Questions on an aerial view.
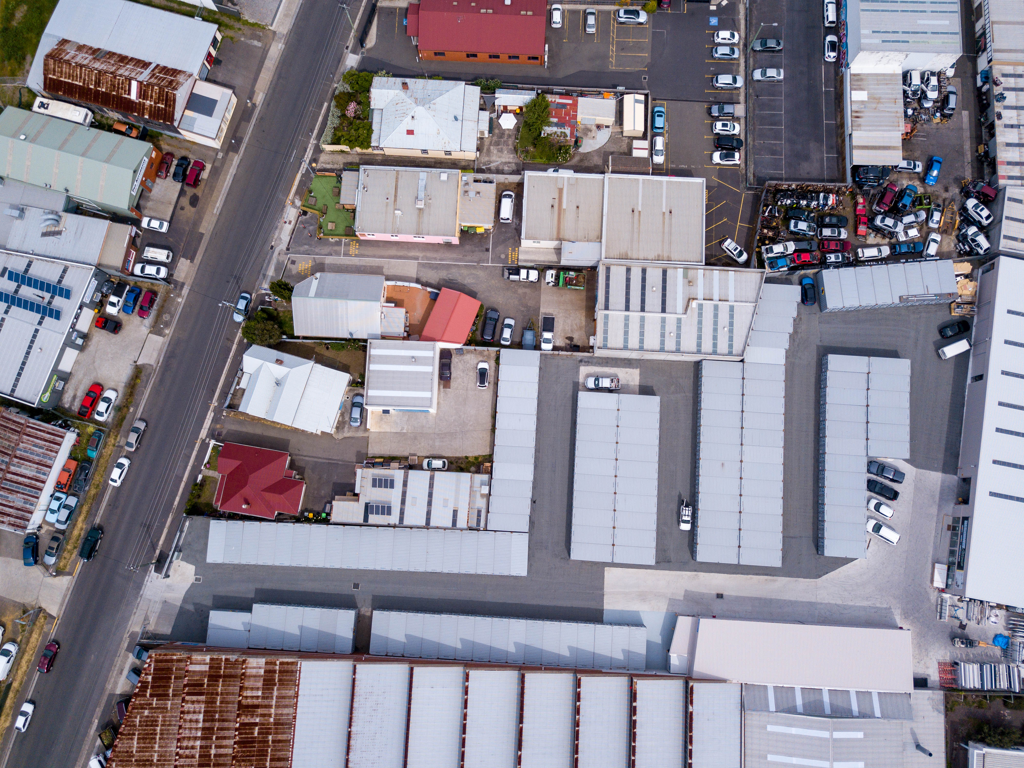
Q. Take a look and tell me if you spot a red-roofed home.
Yes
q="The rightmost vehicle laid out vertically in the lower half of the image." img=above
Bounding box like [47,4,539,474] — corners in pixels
[679,502,693,533]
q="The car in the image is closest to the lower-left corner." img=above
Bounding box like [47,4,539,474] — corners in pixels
[12,700,36,734]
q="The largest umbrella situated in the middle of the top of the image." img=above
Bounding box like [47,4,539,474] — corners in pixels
[499,114,517,129]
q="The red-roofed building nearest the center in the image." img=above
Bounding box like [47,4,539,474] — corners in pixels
[420,288,481,346]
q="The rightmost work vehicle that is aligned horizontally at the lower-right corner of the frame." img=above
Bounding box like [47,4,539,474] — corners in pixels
[951,637,993,649]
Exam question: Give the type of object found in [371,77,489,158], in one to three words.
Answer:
house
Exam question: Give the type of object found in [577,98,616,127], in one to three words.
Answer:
shed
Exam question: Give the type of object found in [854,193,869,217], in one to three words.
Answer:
car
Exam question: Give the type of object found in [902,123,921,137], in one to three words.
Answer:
work vehicle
